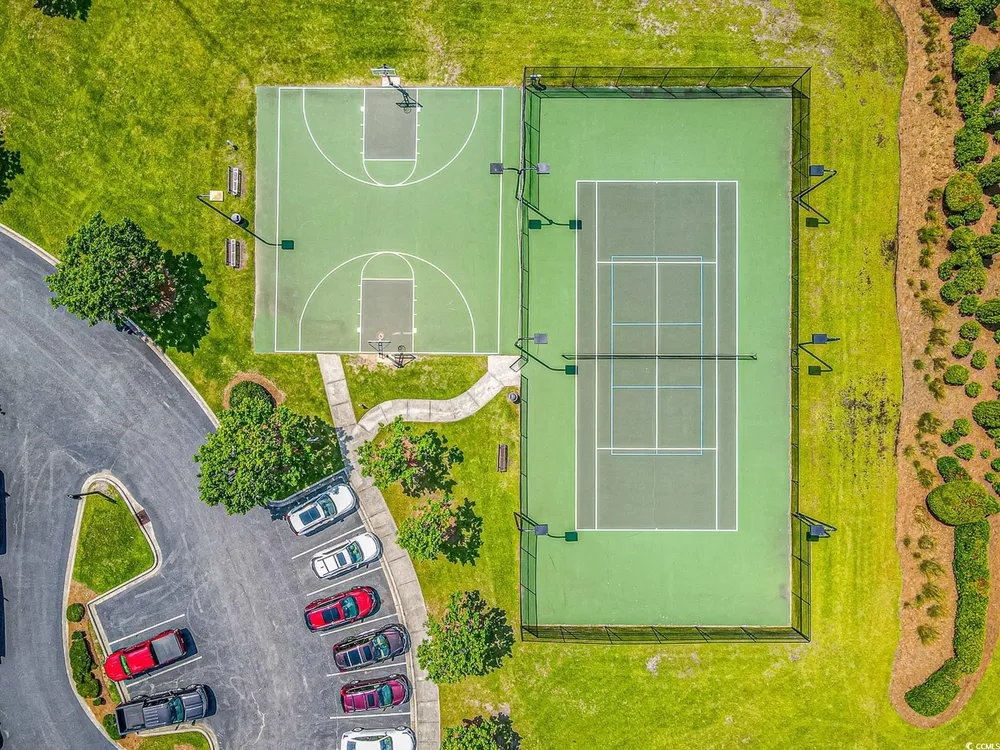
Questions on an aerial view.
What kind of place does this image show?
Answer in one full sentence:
This image shows a sports ground.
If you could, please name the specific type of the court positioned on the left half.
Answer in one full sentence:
The court positioned on the left half can be classified as a basketball court.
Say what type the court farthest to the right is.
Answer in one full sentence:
In the photo, the court farthest to the right shows up as a tennis court.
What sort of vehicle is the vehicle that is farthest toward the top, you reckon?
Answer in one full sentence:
It turns out the vehicle that is farthest toward the top is a car.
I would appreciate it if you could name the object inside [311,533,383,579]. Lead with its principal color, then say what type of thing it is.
white car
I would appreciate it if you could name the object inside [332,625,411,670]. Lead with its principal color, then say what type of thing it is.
gray car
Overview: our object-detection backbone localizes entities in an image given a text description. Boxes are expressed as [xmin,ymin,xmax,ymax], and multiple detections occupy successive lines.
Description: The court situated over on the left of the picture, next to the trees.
[253,86,521,354]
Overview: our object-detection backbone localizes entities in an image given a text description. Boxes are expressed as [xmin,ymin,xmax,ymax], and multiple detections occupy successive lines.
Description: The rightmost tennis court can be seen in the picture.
[520,85,793,628]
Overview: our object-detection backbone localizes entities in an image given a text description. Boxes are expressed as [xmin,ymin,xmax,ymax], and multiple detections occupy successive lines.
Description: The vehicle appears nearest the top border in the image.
[285,485,360,536]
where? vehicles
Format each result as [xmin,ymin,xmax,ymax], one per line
[285,485,360,536]
[113,686,209,735]
[311,533,383,579]
[342,726,416,750]
[340,676,411,715]
[305,587,380,633]
[104,628,190,681]
[332,625,411,670]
